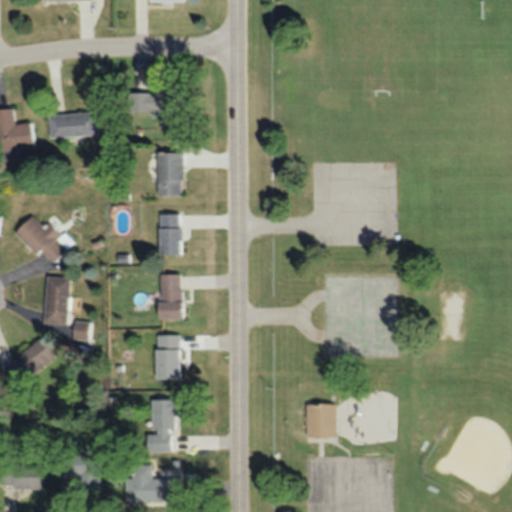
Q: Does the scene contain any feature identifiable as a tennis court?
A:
Yes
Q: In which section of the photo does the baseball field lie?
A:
bottom right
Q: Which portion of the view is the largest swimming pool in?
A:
left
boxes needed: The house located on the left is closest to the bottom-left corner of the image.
[2,476,44,490]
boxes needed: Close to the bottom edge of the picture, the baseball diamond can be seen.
[435,416,512,495]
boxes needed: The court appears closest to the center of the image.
[328,276,400,357]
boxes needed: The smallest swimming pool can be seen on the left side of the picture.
[132,292,149,307]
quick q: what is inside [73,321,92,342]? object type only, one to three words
building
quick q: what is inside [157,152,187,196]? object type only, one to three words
house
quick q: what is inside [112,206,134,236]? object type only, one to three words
swimming pool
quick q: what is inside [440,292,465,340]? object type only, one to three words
sports court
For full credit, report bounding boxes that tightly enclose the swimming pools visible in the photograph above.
[112,206,134,236]
[132,292,149,307]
